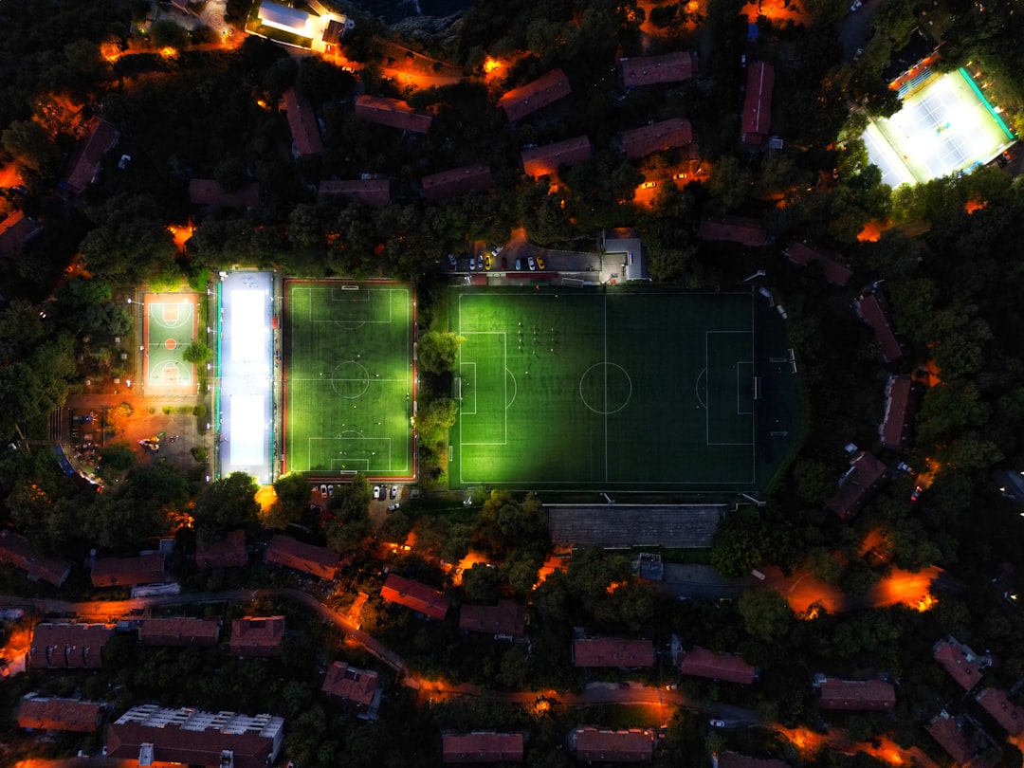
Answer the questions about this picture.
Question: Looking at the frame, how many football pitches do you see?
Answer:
2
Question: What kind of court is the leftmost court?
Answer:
basketball court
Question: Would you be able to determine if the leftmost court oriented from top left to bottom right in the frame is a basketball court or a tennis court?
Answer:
tennis court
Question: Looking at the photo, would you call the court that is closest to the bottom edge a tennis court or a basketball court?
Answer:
tennis court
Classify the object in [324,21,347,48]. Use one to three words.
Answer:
building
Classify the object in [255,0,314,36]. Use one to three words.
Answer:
building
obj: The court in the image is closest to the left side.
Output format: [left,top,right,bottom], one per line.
[144,294,197,395]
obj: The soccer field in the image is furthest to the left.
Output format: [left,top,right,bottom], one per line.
[284,279,416,482]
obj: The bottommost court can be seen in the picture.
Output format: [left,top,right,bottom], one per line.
[219,378,273,484]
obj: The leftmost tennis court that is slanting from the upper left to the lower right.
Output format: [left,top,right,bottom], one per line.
[827,102,916,207]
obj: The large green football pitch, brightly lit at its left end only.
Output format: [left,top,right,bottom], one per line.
[447,286,806,491]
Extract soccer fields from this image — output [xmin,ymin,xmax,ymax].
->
[284,279,416,482]
[447,286,806,491]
